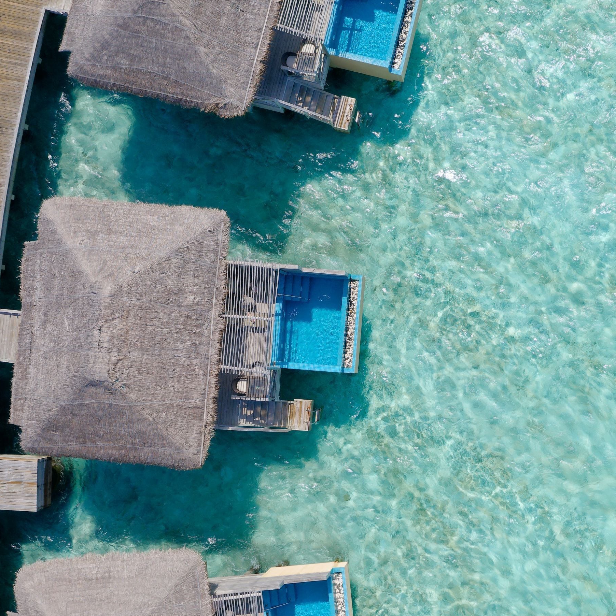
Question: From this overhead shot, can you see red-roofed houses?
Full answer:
No, no red-roofed house is visible in the view.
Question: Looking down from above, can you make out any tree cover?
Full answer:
No, the scene doesn't show any tree cover.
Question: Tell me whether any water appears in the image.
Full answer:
Yes, there is water in the image.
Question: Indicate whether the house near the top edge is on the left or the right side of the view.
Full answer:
It is on the left.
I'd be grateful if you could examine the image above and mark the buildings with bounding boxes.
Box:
[6,544,217,616]
[57,0,283,127]
[10,195,239,470]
